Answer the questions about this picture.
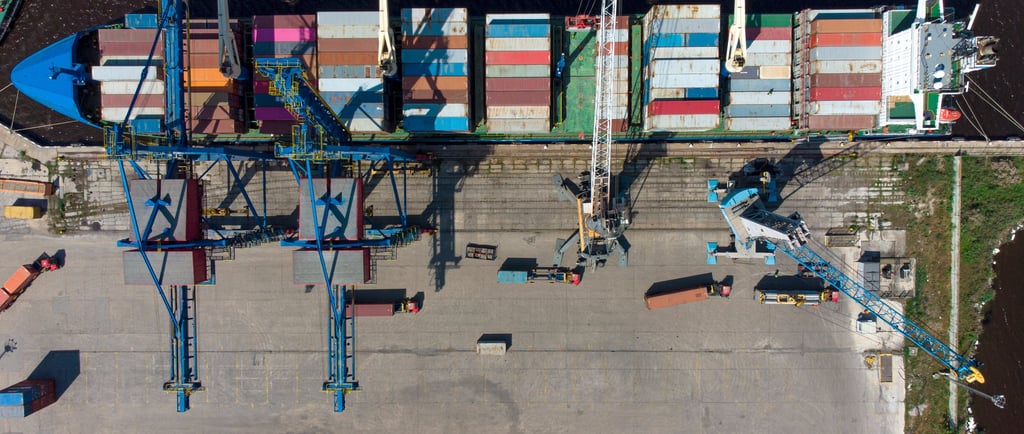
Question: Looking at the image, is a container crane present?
Yes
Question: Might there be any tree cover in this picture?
No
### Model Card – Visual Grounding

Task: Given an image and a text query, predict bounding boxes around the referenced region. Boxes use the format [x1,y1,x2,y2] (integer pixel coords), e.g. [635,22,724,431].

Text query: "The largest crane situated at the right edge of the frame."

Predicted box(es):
[707,159,991,387]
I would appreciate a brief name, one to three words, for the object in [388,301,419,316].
vehicle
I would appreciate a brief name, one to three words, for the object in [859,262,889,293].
shed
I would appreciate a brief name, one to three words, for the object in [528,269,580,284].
vehicle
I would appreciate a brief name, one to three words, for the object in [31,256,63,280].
truck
